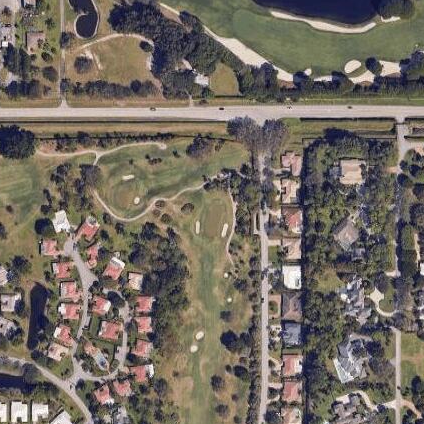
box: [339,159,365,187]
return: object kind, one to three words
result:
house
